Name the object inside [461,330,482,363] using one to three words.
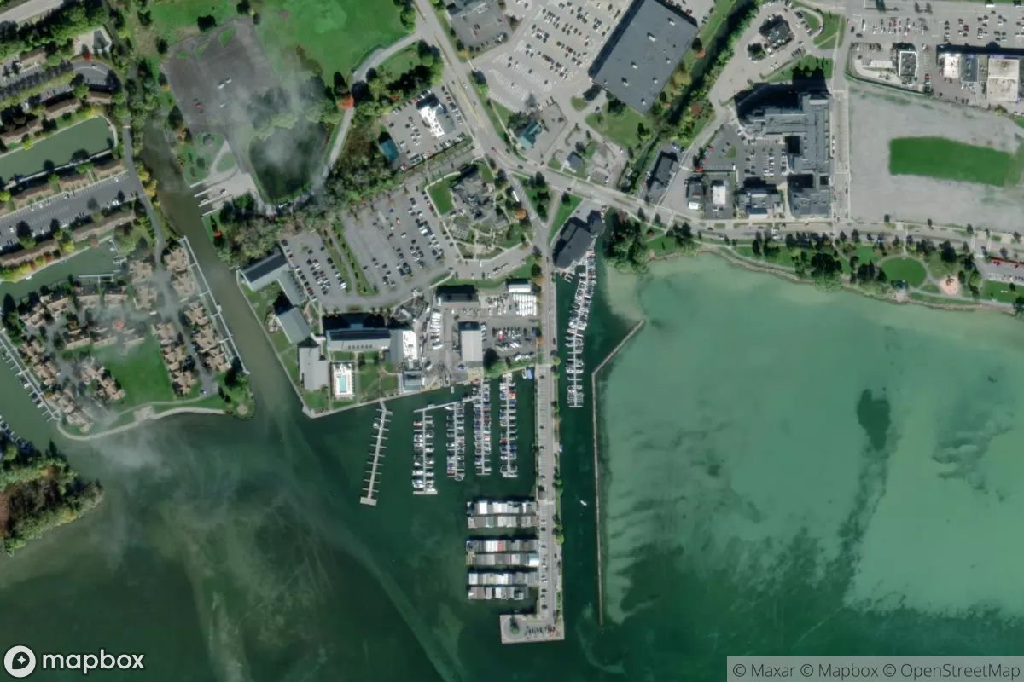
building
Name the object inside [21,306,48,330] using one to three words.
house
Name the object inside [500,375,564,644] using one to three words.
pier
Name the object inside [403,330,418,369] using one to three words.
building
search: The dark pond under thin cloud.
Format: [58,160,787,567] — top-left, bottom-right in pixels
[248,120,333,203]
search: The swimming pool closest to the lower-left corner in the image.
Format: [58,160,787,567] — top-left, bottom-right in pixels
[332,361,355,397]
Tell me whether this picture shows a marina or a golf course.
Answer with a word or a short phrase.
marina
